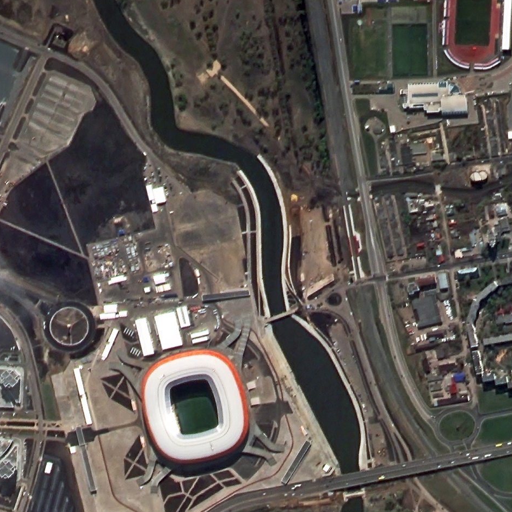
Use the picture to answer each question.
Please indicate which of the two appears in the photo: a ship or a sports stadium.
sports stadium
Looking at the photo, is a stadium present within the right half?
Yes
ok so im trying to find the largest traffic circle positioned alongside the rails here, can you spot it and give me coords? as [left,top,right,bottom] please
[432,404,480,446]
